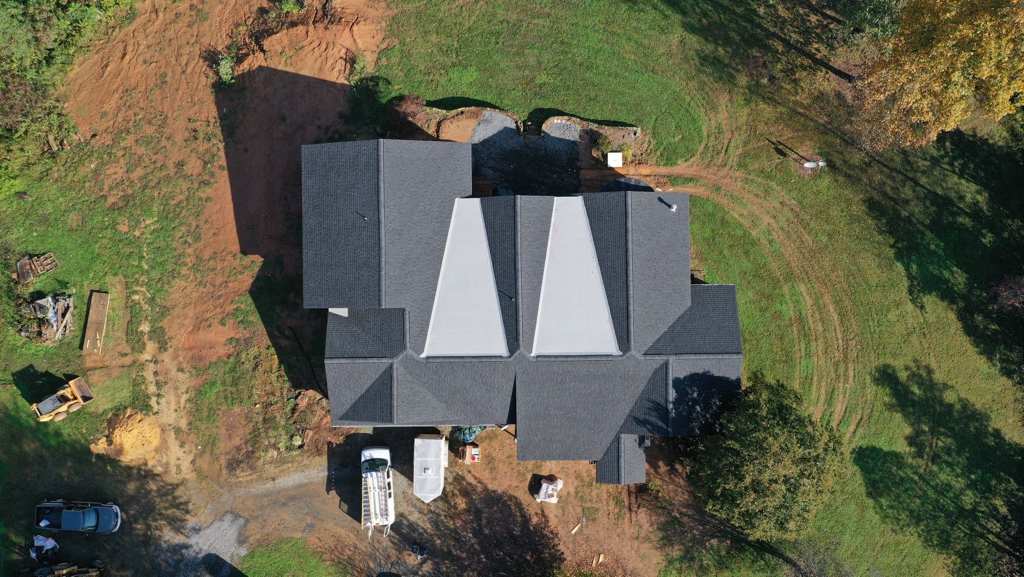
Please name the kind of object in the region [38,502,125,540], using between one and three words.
truck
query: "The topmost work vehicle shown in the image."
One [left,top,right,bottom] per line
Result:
[23,376,92,423]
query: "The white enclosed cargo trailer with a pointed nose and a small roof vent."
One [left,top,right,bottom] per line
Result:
[415,429,450,508]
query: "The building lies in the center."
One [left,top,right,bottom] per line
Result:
[302,137,744,486]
